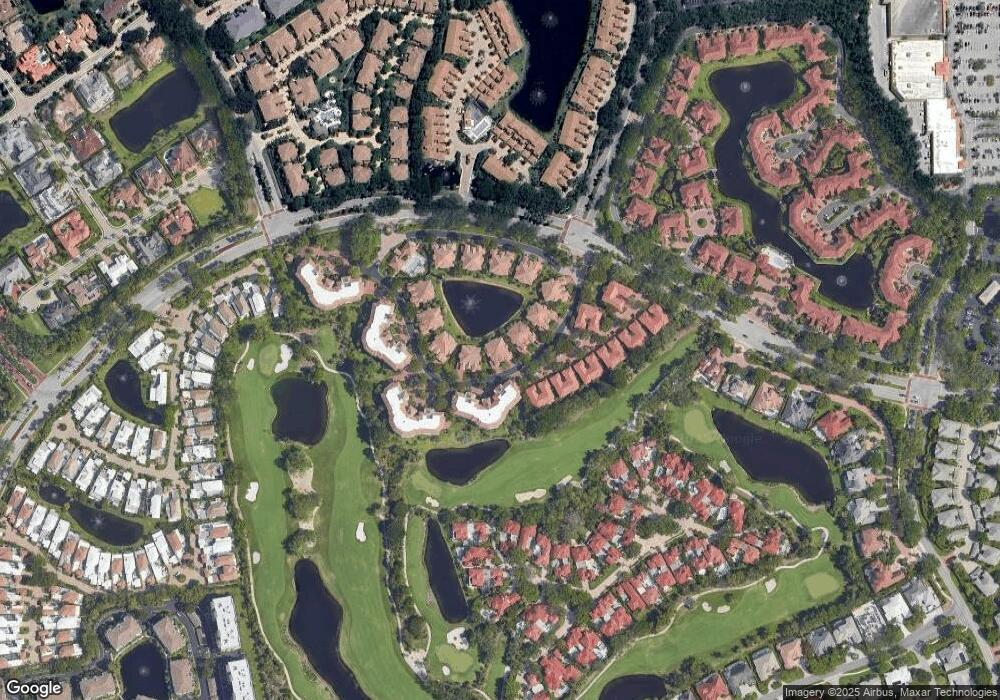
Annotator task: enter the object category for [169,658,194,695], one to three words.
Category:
building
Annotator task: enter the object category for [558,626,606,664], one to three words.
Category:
house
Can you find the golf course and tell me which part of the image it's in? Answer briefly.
bottom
